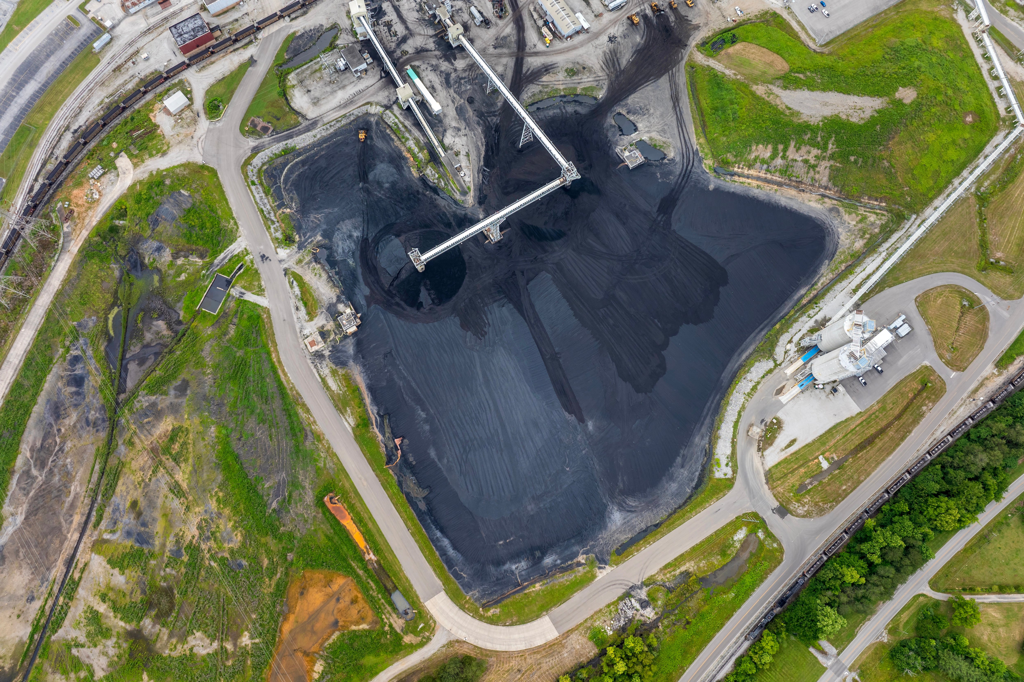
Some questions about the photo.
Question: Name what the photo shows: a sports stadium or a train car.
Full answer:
It is a train car that can be seen here.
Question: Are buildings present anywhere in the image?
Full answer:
Yes, a building can be made out from above.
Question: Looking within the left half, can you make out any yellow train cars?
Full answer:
No, there is no yellow train car within the left half.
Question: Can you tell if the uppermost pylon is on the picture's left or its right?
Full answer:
It is on the left.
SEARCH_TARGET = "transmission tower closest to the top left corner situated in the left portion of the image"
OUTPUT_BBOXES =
[0,206,58,251]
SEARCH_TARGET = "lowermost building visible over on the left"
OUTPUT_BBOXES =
[337,301,361,333]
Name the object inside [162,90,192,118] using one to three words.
shed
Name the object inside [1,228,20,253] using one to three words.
rail car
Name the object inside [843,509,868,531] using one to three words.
rail car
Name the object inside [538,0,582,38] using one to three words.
building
